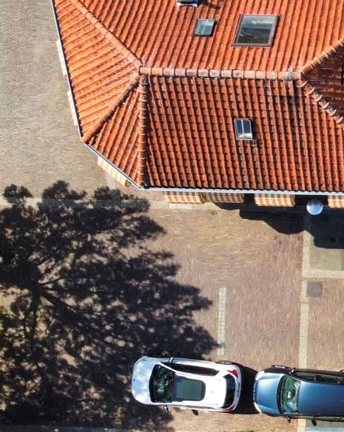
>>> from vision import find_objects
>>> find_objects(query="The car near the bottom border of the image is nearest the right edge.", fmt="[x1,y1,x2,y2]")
[252,363,344,422]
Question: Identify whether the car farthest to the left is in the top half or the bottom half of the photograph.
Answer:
bottom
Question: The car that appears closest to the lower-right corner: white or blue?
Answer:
blue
